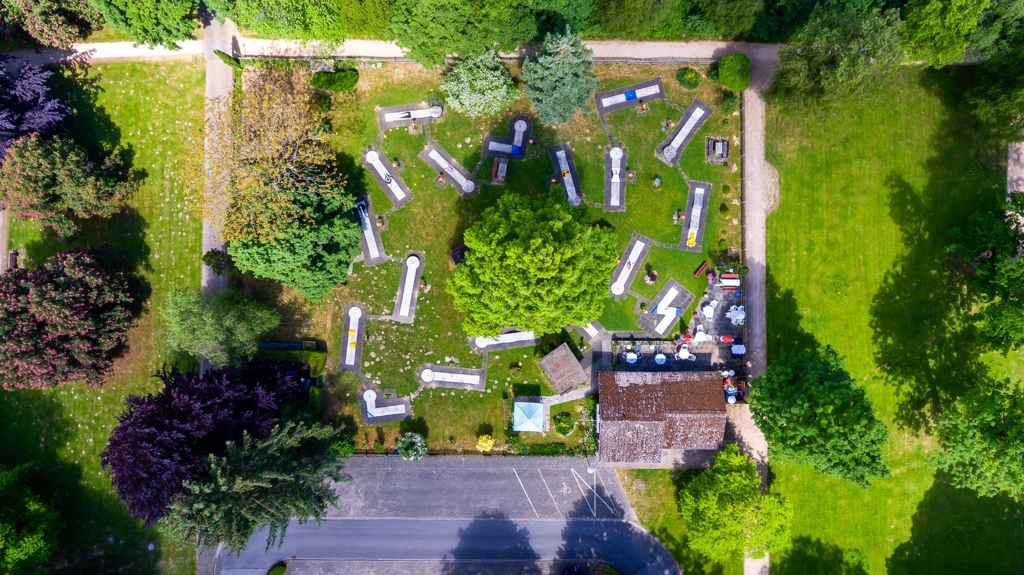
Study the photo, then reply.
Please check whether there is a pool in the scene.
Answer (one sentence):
No, the scene contains no pool.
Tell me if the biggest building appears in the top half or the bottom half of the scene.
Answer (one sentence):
Seen from above, the biggest building lies in the bottom half of the view.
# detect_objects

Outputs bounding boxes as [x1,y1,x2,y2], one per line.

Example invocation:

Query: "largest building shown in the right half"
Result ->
[597,371,726,463]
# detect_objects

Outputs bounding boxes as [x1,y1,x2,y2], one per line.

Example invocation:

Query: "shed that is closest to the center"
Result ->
[539,343,588,396]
